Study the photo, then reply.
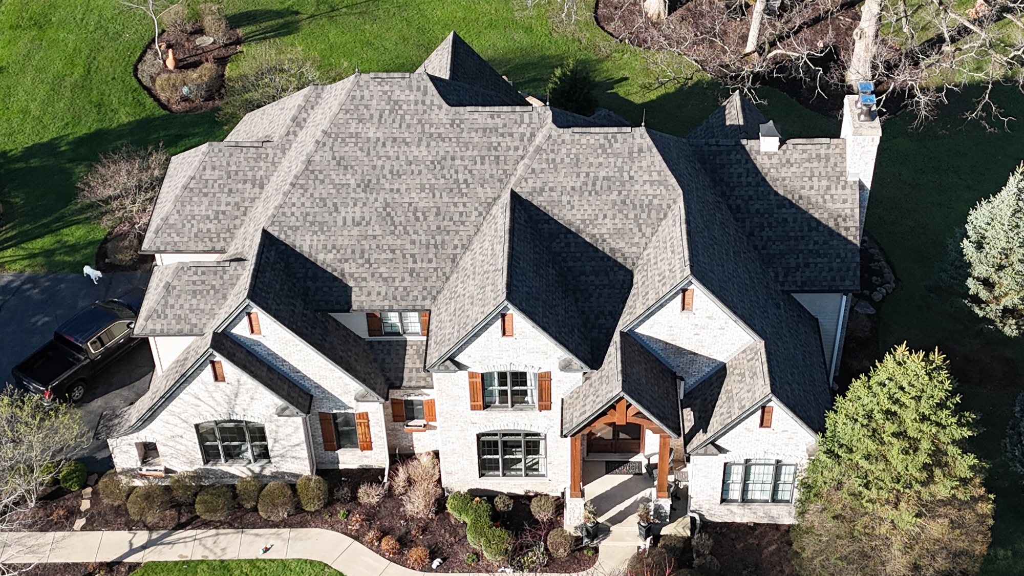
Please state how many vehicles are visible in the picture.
1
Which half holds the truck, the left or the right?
left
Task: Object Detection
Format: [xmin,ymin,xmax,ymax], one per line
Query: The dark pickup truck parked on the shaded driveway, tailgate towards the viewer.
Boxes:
[10,283,151,416]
